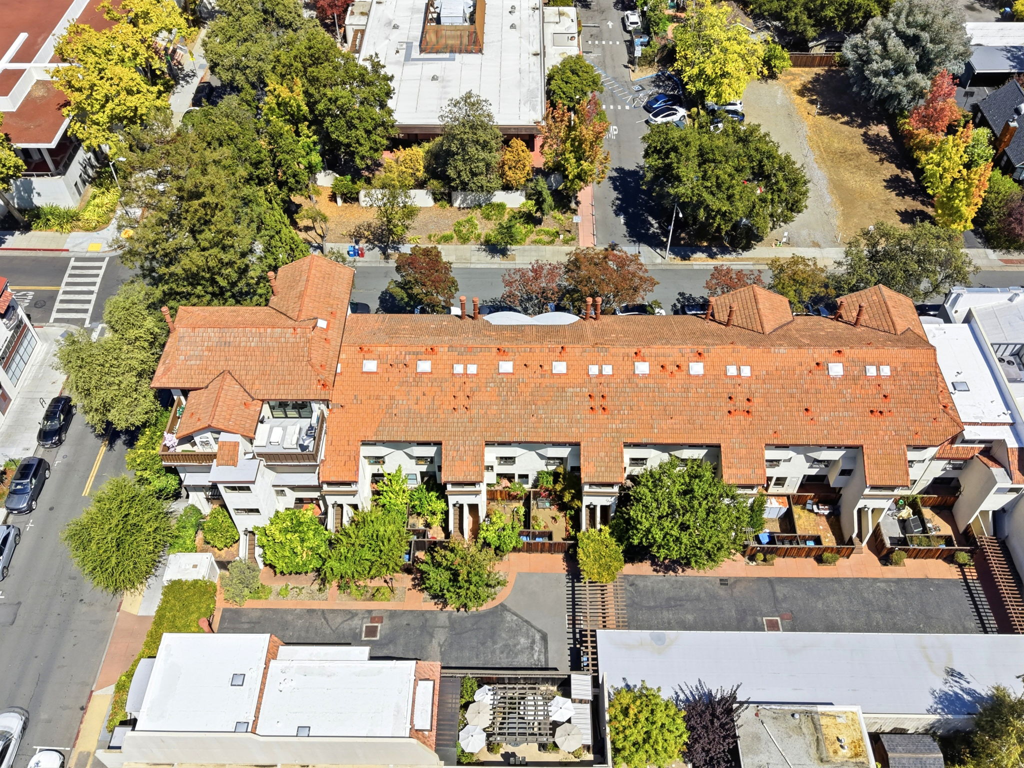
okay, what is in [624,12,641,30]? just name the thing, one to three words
car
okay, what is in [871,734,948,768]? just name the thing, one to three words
shed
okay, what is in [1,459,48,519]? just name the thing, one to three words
car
